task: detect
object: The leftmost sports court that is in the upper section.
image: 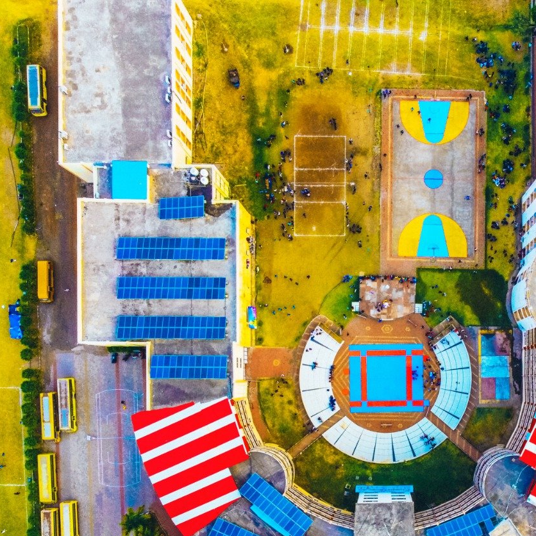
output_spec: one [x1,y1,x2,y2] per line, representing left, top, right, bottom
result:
[294,135,347,237]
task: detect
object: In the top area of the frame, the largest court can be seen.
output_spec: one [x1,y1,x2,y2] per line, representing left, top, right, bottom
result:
[380,90,485,267]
